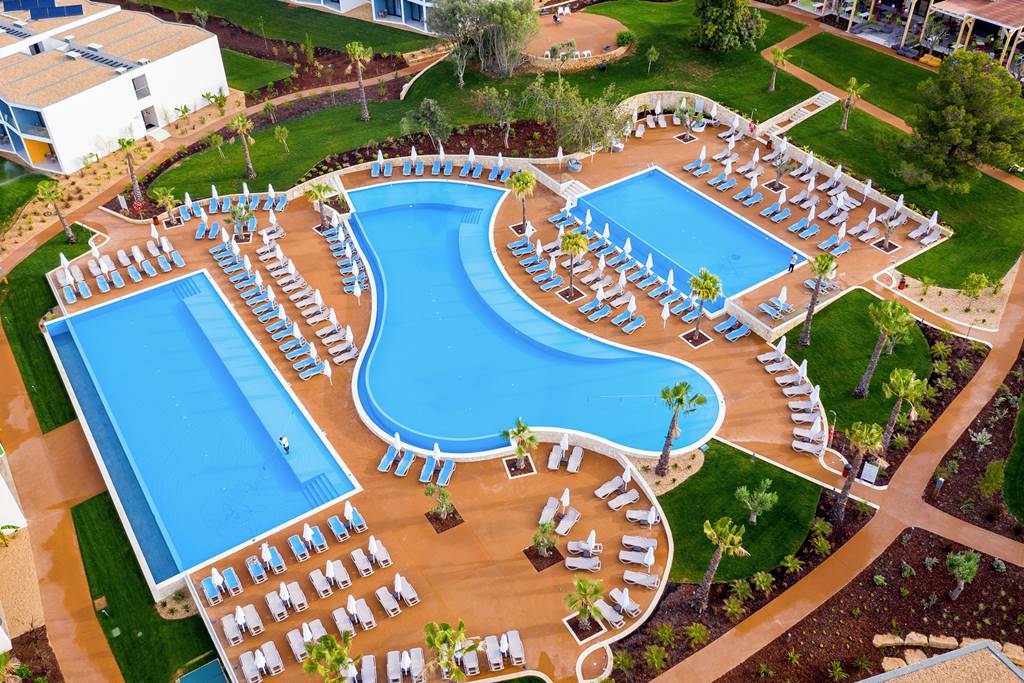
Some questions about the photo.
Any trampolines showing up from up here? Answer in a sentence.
No, I can see no trampoline in this picture.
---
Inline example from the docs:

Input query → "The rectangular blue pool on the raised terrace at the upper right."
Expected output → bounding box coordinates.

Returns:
[570,163,810,322]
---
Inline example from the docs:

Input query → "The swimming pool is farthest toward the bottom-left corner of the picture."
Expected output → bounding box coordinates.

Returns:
[45,269,362,602]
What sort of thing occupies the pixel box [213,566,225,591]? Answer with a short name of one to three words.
umbrella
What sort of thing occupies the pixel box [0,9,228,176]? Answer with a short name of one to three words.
building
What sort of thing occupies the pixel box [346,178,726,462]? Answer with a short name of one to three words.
swimming pool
